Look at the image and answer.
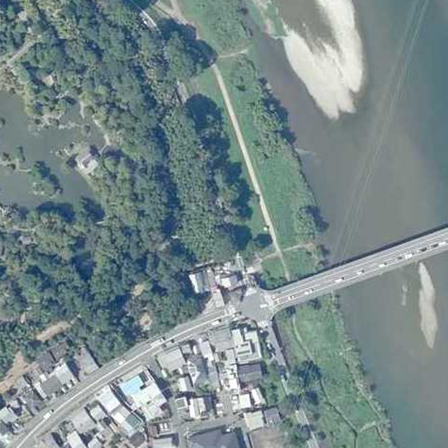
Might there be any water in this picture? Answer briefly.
Yes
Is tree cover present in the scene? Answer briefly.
Yes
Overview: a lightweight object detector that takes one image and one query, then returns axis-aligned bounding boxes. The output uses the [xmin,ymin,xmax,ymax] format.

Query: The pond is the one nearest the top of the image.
[0,92,106,208]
